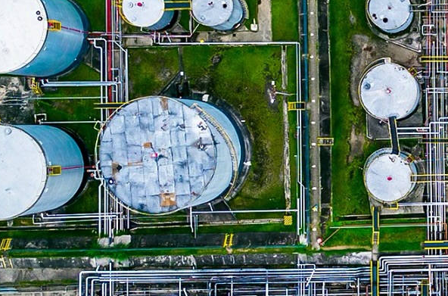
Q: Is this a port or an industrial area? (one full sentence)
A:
This looks like an industrial area.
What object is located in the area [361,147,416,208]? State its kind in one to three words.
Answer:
storage tank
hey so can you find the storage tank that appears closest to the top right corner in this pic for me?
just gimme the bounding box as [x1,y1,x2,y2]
[364,0,417,38]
